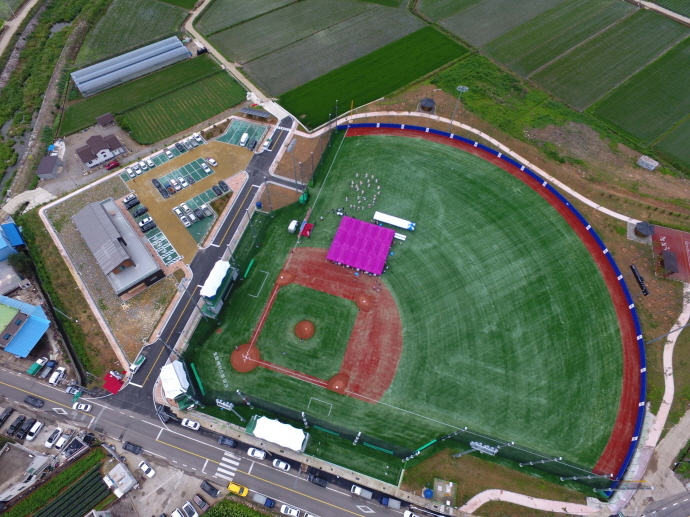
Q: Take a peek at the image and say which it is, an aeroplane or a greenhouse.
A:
greenhouse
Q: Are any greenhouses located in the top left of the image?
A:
Yes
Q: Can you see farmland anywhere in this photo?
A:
Yes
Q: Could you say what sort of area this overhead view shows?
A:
sports ground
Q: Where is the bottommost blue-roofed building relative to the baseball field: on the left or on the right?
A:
to its left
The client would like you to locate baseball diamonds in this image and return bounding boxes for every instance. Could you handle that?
[180,127,639,498]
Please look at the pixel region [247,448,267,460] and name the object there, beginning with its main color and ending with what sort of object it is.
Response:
white vehicle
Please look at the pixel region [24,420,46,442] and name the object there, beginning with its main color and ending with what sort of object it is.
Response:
white vehicle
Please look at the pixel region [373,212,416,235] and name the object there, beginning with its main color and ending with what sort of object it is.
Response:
white tent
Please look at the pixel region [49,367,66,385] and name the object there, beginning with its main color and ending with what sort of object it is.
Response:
white car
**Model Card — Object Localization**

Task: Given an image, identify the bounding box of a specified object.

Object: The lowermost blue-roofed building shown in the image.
[0,295,59,357]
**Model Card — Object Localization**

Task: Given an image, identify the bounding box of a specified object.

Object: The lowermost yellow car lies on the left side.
[228,483,248,496]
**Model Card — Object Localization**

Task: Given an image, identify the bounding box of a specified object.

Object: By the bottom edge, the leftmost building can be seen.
[0,443,53,501]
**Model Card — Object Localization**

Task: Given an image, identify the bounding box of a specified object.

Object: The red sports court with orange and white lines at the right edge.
[653,225,690,283]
